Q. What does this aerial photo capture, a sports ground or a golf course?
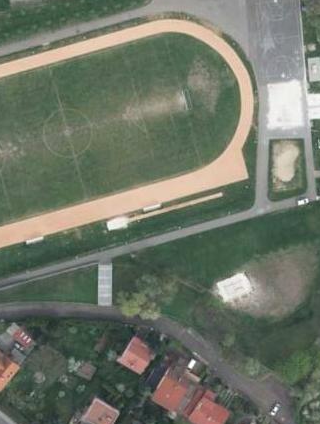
sports ground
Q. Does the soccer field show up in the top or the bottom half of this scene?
top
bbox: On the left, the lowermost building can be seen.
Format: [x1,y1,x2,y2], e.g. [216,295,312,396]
[82,398,120,424]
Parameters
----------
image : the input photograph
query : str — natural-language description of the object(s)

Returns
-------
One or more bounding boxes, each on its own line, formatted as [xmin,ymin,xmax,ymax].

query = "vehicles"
[297,199,309,205]
[272,404,280,416]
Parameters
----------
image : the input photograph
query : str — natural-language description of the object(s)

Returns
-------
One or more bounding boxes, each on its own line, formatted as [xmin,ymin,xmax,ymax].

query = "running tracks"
[0,19,254,250]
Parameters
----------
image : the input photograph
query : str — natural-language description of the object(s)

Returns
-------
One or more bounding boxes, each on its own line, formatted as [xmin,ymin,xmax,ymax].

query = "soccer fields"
[0,33,241,226]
